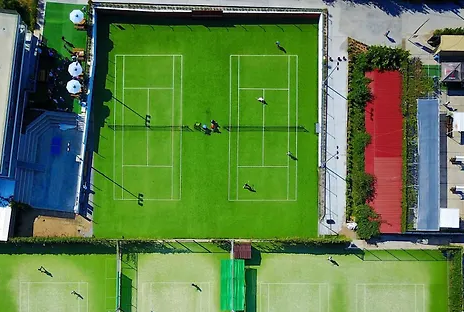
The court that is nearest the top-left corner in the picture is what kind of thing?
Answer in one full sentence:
The court that is nearest the top-left corner is a tennis court.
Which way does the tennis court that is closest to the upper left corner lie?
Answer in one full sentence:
From this overhead view, the tennis court that is closest to the upper left corner appears to run from top to bottom.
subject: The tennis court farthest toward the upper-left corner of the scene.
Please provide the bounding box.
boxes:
[112,52,185,203]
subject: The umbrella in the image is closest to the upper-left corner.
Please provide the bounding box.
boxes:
[70,10,85,27]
